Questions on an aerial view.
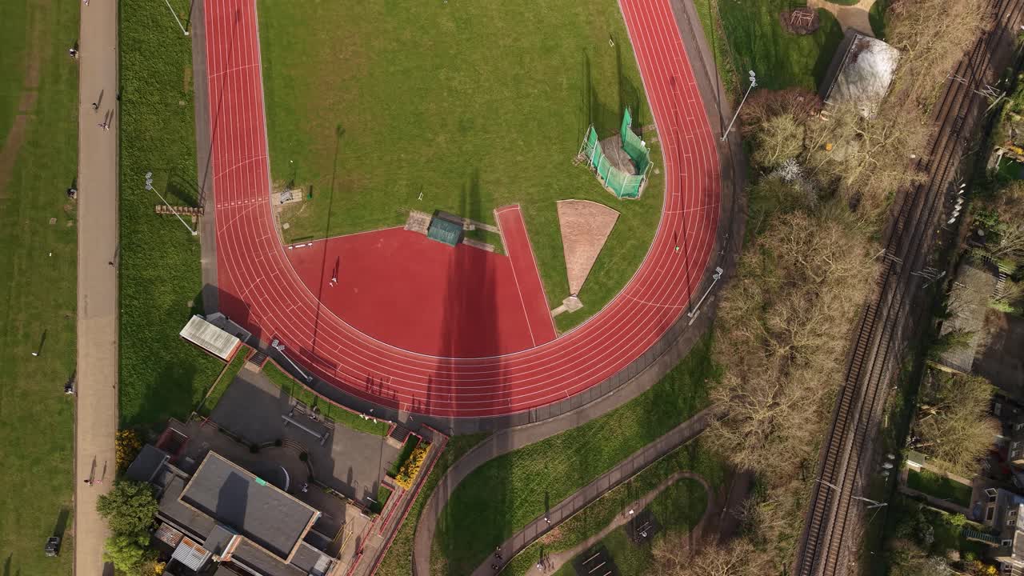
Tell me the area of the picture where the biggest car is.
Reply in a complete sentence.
The biggest car is located in the bottom left region of the scene.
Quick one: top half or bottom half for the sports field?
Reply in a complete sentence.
The sports field sits in the top half of the picture.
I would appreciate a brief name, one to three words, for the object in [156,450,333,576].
building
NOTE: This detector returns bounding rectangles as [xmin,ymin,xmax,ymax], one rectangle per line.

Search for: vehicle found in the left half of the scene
[41,535,61,560]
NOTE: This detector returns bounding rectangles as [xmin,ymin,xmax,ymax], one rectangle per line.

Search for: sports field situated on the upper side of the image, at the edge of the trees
[256,0,665,336]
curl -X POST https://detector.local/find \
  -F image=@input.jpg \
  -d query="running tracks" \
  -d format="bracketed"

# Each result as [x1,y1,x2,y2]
[205,0,721,417]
